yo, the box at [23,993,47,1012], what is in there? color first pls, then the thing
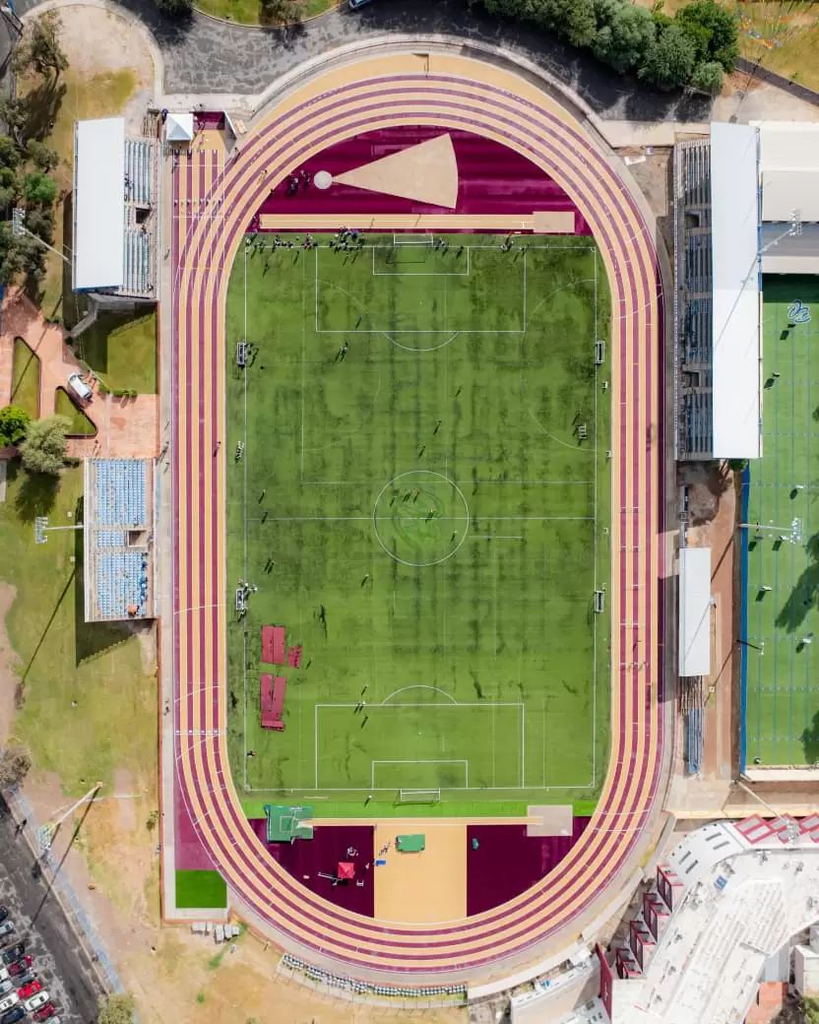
white car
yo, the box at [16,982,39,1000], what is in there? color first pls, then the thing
red car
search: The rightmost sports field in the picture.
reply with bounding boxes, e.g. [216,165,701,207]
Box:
[740,279,819,774]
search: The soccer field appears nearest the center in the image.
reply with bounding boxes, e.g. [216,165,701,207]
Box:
[227,236,610,817]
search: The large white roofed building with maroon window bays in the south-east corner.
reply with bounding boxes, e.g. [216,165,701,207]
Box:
[597,811,819,1024]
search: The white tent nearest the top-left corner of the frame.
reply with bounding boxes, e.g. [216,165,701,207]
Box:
[165,110,194,142]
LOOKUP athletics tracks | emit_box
[173,55,665,974]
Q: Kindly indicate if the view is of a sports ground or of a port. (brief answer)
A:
sports ground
